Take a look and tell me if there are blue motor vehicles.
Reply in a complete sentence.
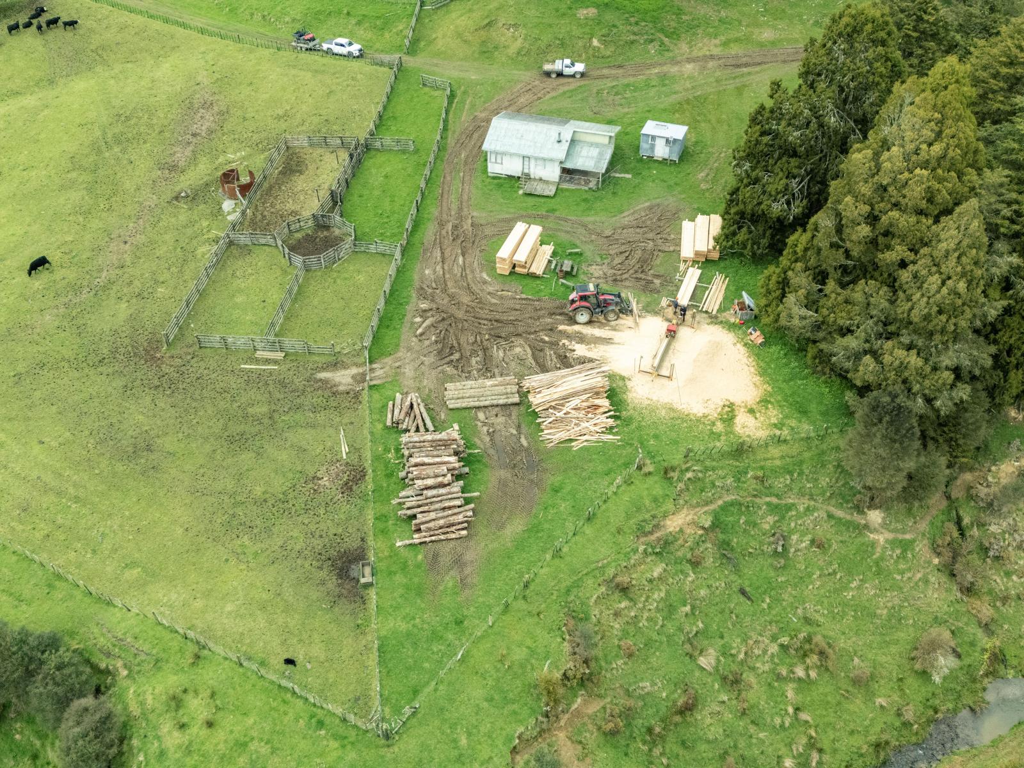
No, I can't see a single blue motor vehicle in this photo.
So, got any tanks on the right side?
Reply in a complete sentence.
No, the scene shows no tank on the right side.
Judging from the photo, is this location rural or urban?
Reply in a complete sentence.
The land in this view is best described as rural.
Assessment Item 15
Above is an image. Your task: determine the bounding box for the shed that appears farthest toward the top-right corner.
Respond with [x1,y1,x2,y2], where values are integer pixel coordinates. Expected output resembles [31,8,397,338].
[642,118,685,160]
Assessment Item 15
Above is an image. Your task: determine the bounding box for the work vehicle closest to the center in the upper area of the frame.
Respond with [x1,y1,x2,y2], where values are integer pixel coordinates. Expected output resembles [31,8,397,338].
[567,288,638,325]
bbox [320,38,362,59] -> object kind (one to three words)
truck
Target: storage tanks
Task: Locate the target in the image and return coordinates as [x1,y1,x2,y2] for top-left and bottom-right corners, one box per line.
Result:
[216,170,255,200]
